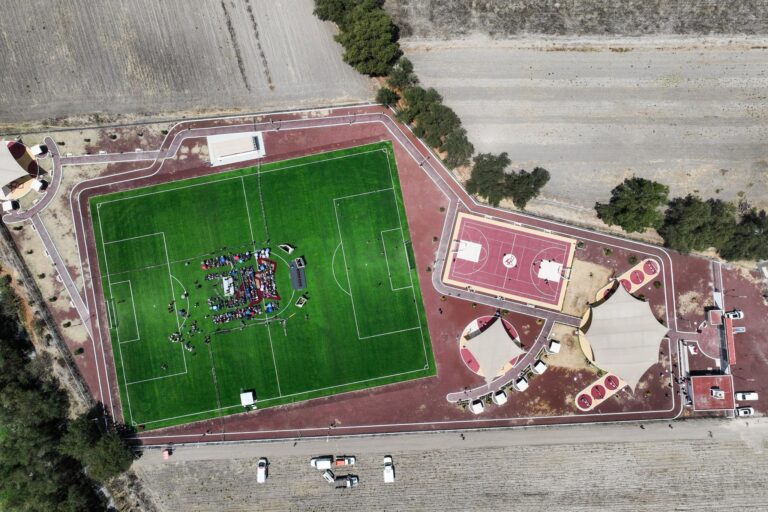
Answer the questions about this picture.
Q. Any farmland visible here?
Yes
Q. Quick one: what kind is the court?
basketball court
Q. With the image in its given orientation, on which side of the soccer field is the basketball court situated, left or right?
to the right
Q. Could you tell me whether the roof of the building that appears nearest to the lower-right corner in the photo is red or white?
red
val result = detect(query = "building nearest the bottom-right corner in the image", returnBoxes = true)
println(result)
[688,375,734,411]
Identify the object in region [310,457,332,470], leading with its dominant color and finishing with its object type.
white vehicle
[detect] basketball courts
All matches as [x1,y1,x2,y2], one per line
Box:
[442,213,577,311]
